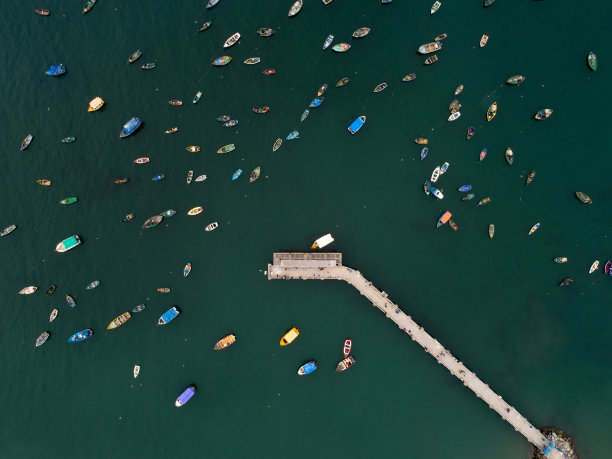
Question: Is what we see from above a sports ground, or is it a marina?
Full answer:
The picture captures a marina.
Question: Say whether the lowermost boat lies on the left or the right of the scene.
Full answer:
The lowermost boat is on the left side of the image.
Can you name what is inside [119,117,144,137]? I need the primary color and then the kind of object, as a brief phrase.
blue boat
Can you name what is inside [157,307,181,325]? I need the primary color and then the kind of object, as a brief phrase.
blue boat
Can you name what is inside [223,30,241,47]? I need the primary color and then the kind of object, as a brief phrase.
white boat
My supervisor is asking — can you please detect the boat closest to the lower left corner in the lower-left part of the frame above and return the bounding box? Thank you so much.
[35,332,50,347]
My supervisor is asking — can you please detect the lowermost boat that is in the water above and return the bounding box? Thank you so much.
[175,384,197,407]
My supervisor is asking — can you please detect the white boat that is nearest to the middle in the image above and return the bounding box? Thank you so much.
[312,232,335,249]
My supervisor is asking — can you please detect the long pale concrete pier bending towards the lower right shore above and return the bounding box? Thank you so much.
[268,252,571,459]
